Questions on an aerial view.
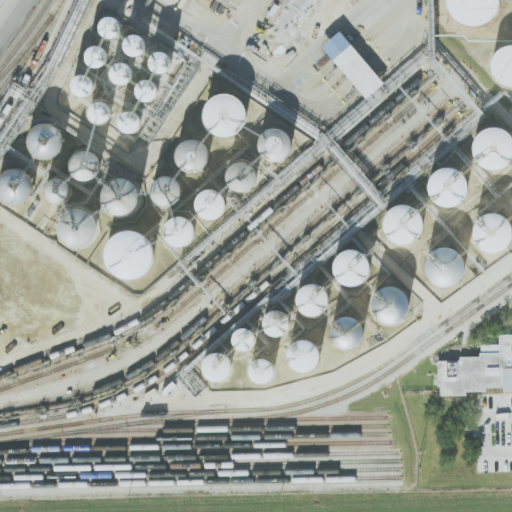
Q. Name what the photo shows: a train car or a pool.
train car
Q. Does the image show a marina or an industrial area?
industrial area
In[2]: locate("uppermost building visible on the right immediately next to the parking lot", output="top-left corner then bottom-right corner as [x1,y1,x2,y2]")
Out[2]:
[437,334,512,396]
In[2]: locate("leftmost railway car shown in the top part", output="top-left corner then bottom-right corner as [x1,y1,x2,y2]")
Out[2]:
[30,36,48,70]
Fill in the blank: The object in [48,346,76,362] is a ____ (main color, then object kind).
white rail car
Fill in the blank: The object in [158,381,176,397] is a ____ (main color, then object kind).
white vehicle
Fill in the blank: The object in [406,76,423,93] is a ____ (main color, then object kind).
gray rail car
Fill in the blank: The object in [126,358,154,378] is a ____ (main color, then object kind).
gray rail car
